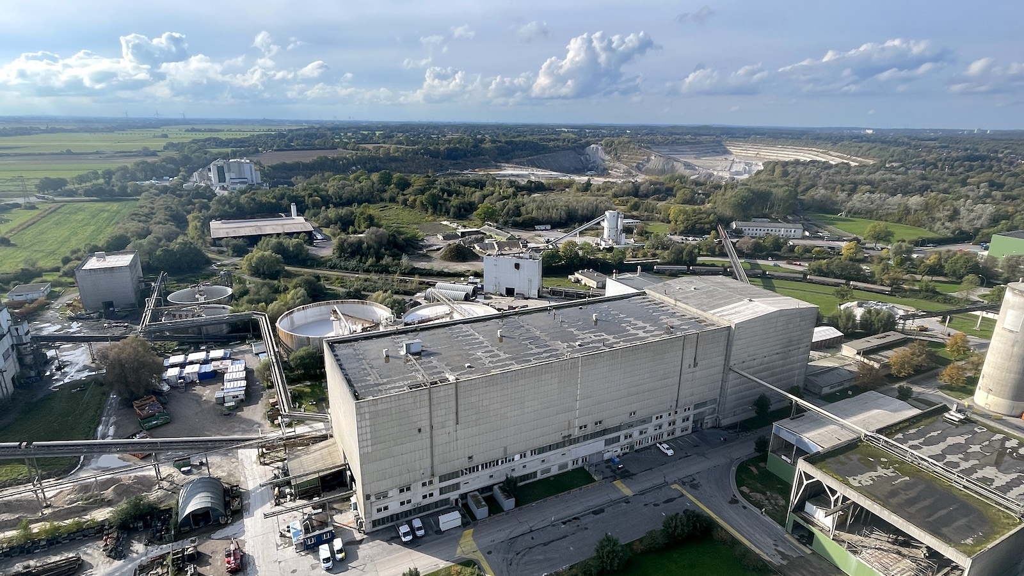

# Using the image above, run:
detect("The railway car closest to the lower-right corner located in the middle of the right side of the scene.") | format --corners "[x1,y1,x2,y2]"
[857,284,894,296]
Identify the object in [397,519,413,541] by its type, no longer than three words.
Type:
car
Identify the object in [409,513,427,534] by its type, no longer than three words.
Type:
car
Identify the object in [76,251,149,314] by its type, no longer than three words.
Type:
building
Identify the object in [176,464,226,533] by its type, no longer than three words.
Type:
shed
